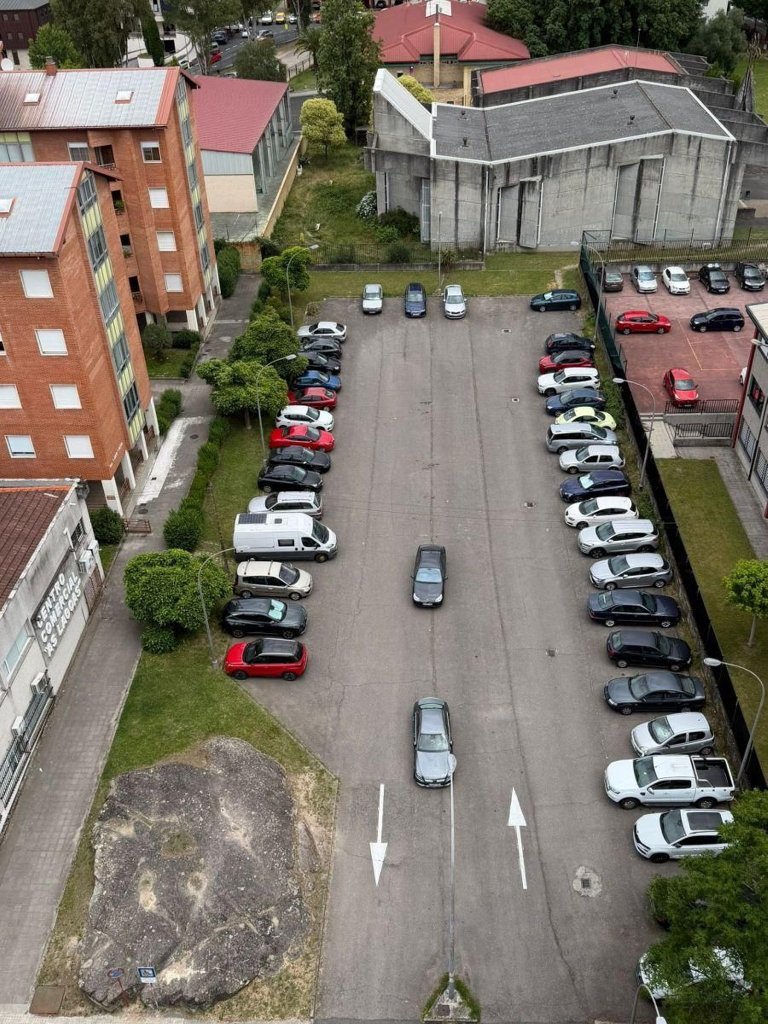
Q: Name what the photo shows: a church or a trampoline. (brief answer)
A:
church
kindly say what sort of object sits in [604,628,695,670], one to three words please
car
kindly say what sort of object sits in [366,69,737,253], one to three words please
church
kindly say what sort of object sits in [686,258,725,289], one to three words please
car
